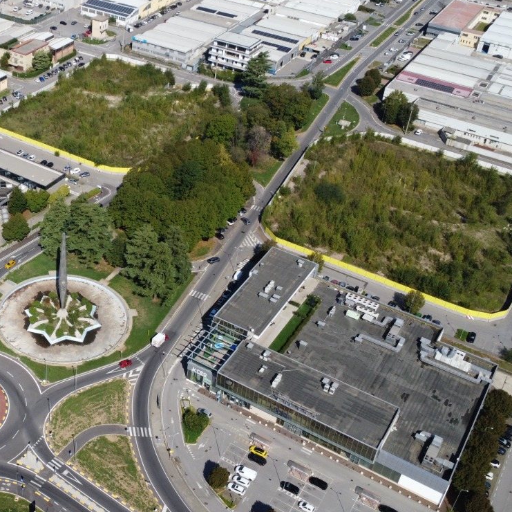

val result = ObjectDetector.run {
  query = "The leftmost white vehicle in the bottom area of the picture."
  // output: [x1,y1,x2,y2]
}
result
[150,325,173,349]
